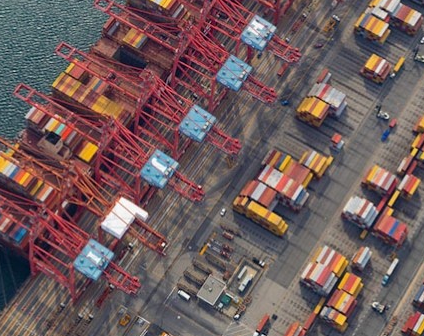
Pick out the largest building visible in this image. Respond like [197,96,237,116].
[197,272,228,305]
